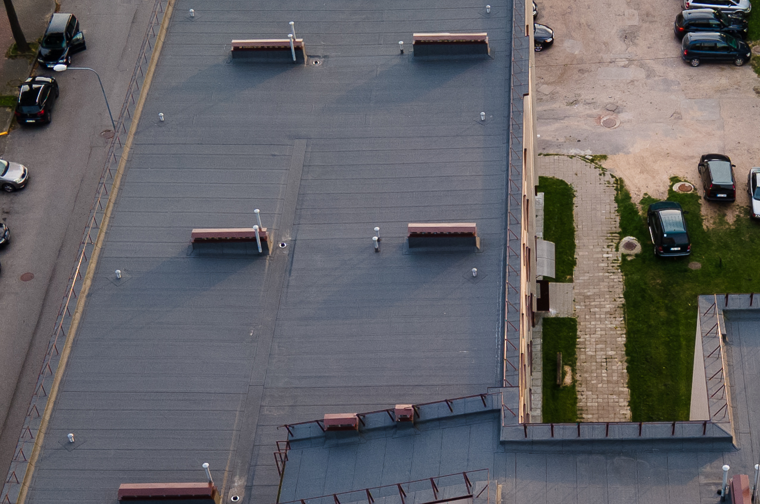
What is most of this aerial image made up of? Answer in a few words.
buildings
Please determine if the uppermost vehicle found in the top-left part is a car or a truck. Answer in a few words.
car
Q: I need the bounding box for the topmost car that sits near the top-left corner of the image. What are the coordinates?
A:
[30,1,91,63]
